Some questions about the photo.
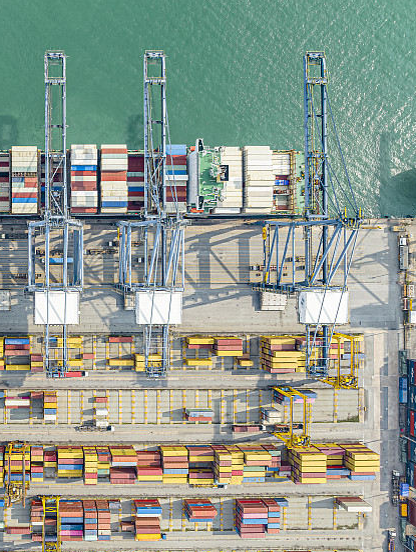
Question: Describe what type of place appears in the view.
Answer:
port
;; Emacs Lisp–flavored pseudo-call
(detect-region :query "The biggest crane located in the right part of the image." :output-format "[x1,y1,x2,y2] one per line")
[239,46,370,381]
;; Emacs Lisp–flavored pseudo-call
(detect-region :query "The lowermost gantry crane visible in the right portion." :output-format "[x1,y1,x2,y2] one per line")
[270,387,314,451]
